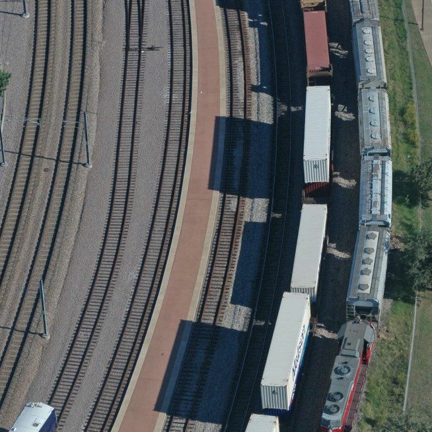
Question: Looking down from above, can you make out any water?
No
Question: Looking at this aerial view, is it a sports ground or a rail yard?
rail yard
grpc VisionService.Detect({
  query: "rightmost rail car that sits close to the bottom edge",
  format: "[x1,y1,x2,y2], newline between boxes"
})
[307,318,380,432]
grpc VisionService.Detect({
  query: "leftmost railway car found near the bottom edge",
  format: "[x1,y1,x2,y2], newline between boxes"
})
[261,318,314,432]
